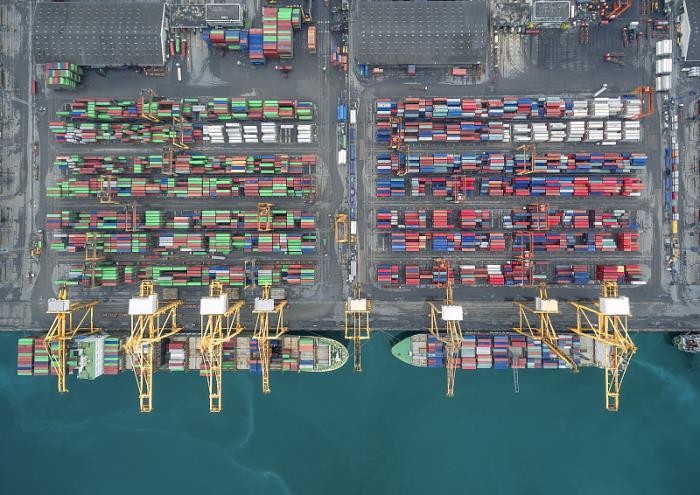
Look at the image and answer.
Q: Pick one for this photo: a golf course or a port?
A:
port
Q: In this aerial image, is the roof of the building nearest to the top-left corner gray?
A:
Yes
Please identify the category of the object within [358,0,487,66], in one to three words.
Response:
building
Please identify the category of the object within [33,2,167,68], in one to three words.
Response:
building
